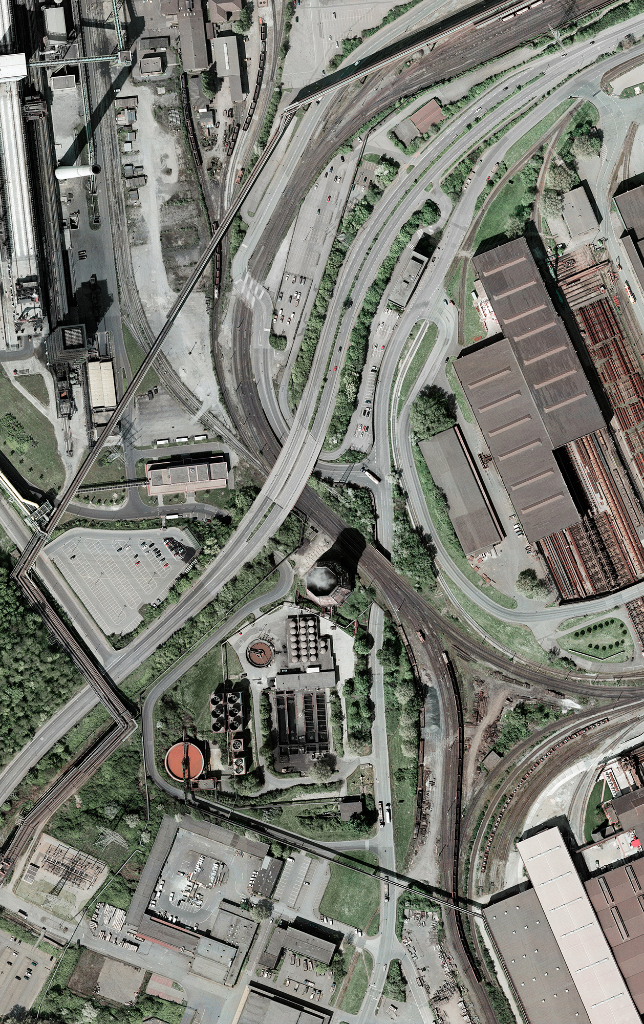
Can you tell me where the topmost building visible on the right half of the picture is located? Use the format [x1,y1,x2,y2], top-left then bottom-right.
[409,99,447,135]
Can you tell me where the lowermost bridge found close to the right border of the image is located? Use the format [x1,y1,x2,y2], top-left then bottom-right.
[527,580,644,620]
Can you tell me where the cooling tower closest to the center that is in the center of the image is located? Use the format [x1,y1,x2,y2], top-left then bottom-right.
[299,558,350,613]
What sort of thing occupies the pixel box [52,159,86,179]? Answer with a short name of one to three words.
chimney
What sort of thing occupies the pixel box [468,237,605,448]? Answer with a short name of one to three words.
building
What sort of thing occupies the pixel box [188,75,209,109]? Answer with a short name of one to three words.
shed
